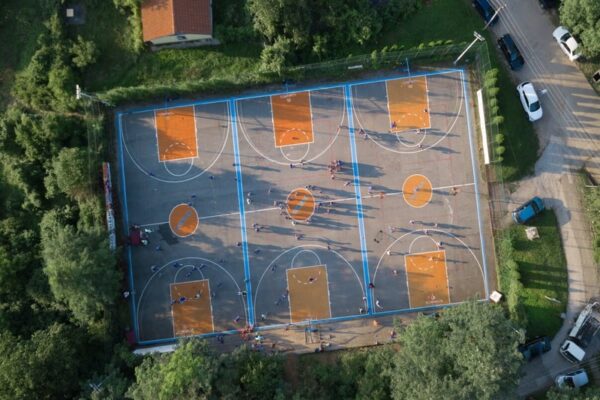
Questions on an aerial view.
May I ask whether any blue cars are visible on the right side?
Yes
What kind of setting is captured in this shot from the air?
sports ground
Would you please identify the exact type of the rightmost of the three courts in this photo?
basketball court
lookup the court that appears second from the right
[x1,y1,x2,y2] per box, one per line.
[236,82,373,328]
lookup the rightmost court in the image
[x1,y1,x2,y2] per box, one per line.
[351,68,488,313]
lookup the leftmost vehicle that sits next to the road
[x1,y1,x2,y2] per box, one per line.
[468,0,498,29]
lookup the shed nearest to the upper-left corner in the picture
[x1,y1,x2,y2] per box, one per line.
[64,4,90,29]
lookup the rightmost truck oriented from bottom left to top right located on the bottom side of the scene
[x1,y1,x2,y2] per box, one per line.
[554,300,600,364]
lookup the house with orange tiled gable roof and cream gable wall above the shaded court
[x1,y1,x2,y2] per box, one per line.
[140,0,213,54]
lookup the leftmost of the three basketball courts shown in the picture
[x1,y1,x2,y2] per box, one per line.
[117,96,257,344]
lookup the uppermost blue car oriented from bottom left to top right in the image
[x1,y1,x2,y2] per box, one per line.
[509,196,544,224]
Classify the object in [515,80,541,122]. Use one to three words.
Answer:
car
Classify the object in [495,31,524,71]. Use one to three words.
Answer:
car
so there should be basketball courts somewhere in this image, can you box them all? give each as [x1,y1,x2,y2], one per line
[351,68,488,313]
[117,96,257,344]
[236,82,373,328]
